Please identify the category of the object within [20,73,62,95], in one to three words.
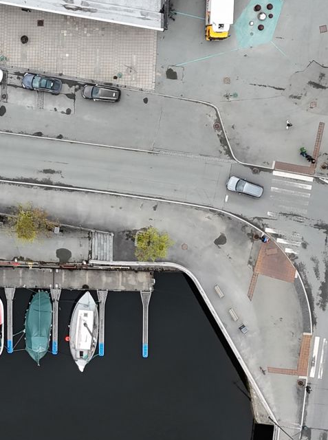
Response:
car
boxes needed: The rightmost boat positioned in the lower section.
[63,292,99,372]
